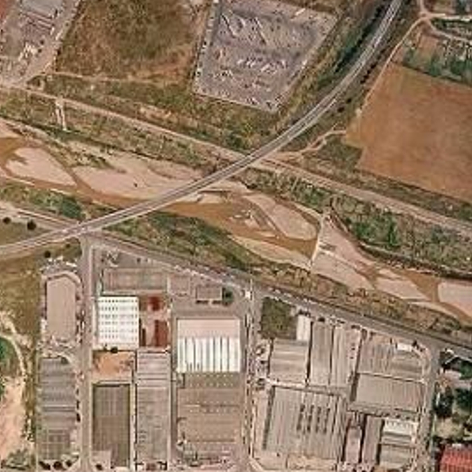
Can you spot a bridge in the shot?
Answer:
Yes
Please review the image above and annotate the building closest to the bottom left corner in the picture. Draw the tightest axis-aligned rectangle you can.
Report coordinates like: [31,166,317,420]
[39,428,70,459]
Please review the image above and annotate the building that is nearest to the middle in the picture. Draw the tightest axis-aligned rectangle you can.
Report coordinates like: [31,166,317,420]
[197,285,222,301]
